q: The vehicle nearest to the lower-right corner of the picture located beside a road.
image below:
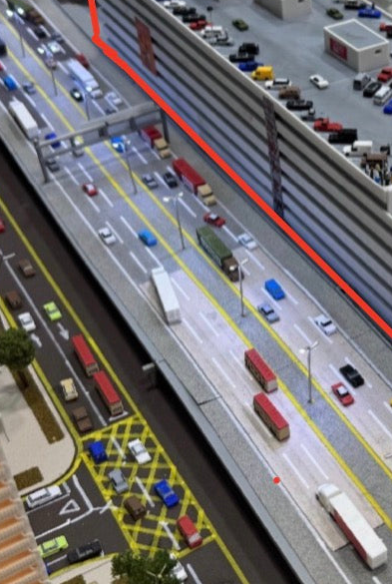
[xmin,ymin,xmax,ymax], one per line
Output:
[315,484,392,577]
